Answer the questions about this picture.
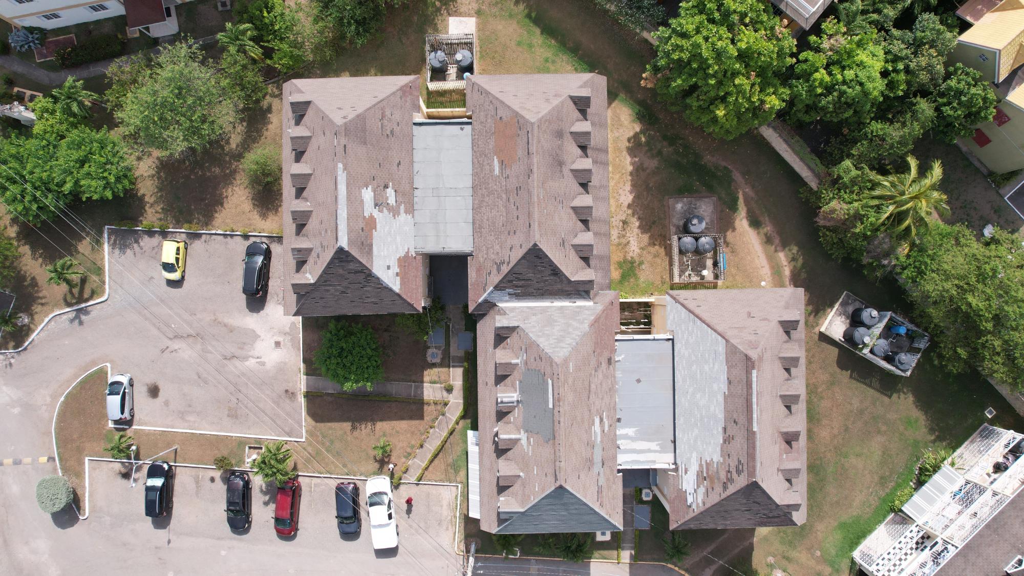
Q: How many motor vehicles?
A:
eight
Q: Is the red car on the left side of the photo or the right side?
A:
left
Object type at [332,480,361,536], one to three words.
car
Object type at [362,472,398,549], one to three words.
truck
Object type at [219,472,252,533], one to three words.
car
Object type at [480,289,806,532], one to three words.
building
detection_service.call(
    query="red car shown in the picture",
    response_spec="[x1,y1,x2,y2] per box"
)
[267,479,302,541]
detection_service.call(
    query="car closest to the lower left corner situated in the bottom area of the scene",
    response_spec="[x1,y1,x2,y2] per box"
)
[137,460,173,520]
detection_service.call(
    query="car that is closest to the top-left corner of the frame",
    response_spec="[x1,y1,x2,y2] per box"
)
[156,238,189,281]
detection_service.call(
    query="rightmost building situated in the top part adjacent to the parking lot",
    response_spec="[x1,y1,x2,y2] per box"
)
[282,73,608,316]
